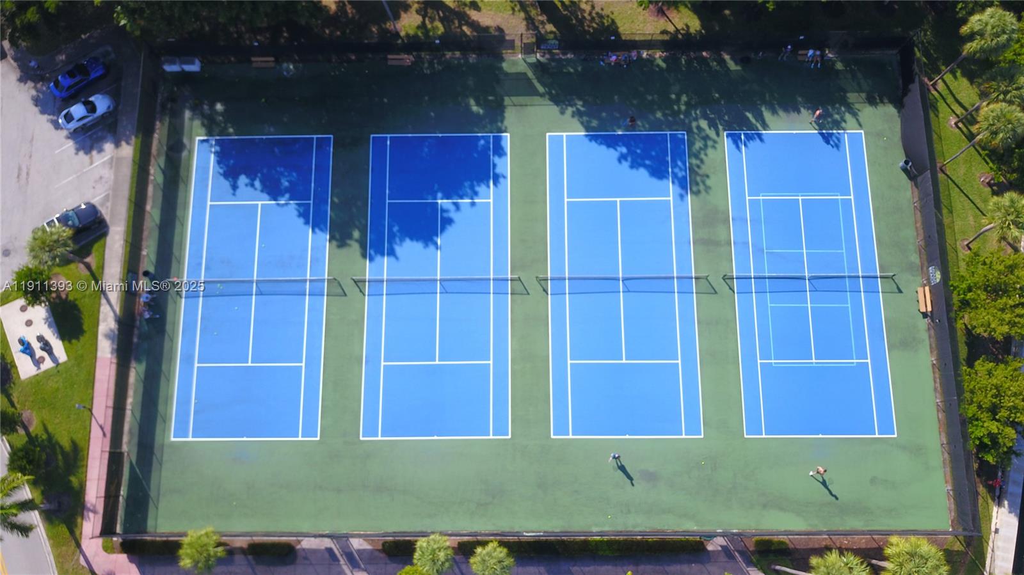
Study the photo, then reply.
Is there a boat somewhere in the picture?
No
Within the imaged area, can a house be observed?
No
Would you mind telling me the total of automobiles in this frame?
3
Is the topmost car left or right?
left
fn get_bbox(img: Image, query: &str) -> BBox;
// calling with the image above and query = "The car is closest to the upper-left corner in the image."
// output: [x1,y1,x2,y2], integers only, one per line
[46,57,106,98]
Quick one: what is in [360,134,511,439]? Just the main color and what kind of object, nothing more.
blue tennis court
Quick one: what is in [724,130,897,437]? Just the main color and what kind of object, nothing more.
blue tennis court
